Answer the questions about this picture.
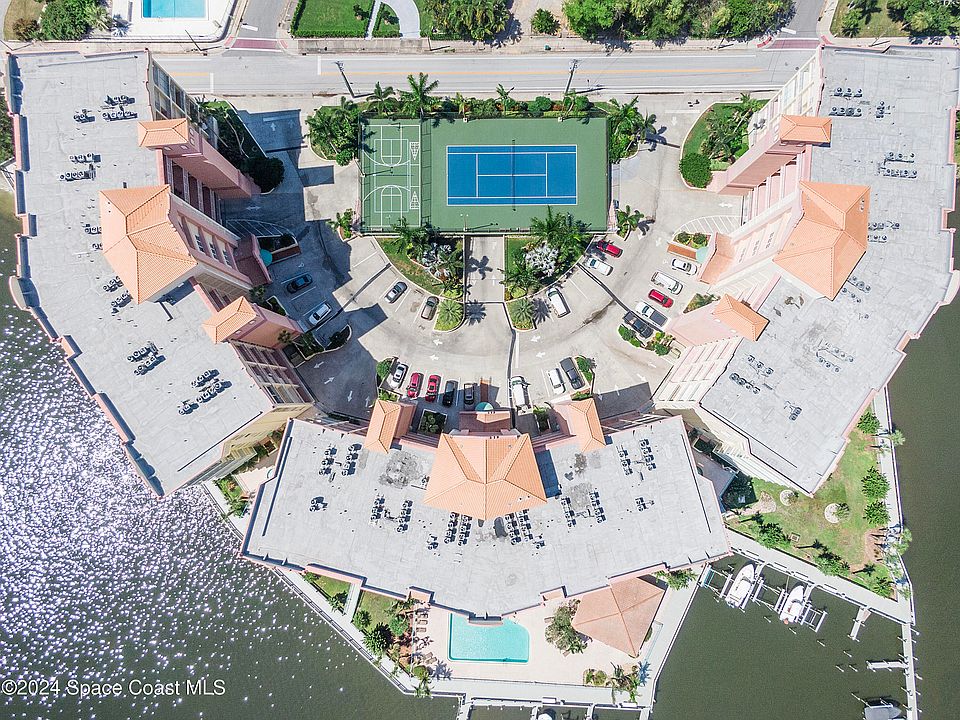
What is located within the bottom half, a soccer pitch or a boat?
boat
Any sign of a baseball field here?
No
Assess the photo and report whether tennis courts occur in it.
Yes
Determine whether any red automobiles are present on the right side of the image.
Yes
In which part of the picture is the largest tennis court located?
top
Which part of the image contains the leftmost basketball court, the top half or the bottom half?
top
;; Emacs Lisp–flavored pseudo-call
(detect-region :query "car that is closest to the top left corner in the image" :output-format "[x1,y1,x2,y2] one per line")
[287,273,313,293]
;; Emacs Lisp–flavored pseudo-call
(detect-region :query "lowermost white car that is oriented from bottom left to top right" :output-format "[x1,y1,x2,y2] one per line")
[387,362,409,388]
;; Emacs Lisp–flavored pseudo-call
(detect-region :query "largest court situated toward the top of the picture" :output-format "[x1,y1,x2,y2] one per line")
[422,117,609,231]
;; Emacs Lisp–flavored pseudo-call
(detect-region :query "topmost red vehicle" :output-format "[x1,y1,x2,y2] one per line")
[595,238,621,258]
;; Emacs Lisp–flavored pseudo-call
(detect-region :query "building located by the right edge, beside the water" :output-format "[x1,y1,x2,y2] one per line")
[654,46,960,497]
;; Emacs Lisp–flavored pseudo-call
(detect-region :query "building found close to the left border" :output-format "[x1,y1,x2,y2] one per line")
[6,50,318,502]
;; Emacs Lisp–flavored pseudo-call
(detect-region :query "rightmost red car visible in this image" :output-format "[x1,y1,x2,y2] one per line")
[648,289,673,308]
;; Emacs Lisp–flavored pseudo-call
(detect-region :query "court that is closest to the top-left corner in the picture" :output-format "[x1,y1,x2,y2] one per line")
[361,114,421,231]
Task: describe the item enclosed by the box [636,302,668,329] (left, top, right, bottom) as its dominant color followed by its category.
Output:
white truck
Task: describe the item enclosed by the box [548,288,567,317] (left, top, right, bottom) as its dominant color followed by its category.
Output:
white vehicle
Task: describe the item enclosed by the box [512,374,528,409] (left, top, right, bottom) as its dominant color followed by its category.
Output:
white vehicle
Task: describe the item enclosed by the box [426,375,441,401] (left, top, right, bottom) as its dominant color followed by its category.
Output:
red car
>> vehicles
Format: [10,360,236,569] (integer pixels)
[622,311,652,338]
[407,371,424,398]
[420,294,440,320]
[548,288,567,317]
[636,302,668,329]
[287,273,313,293]
[586,257,613,277]
[595,238,621,258]
[648,289,673,308]
[442,379,458,406]
[561,356,583,390]
[426,375,441,401]
[387,362,409,388]
[463,382,474,405]
[512,374,528,409]
[308,304,333,325]
[548,368,563,394]
[384,280,409,303]
[650,271,682,295]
